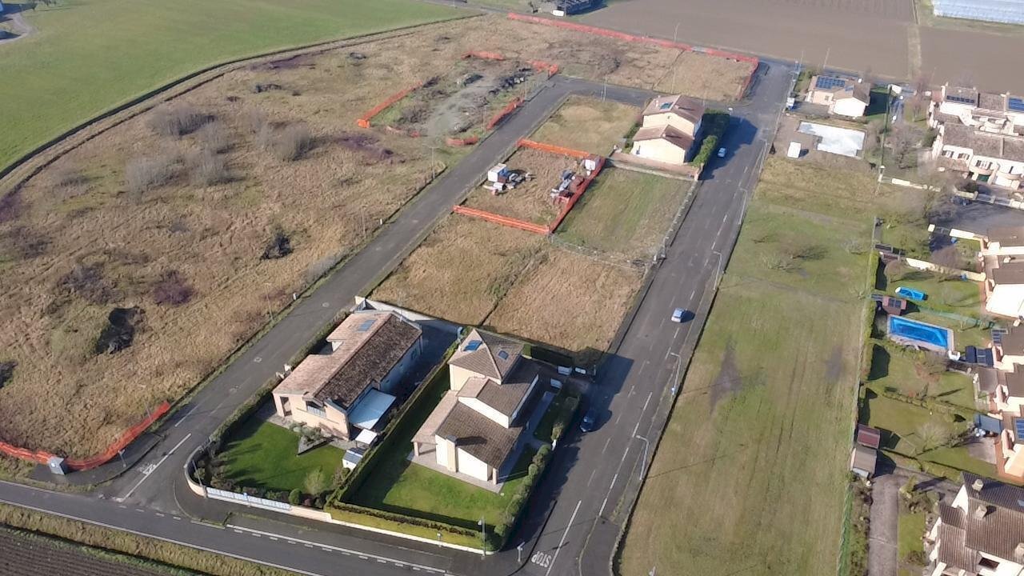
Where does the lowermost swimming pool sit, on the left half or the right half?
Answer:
right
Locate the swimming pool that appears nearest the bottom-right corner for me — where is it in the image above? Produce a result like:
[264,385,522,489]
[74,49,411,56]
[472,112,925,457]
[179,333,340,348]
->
[882,311,957,356]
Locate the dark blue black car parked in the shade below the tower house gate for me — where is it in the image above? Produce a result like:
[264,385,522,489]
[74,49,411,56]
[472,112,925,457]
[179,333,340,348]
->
[579,408,597,431]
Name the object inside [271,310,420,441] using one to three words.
house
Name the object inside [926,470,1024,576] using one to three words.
house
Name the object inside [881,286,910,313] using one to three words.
shed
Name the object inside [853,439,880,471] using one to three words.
shed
